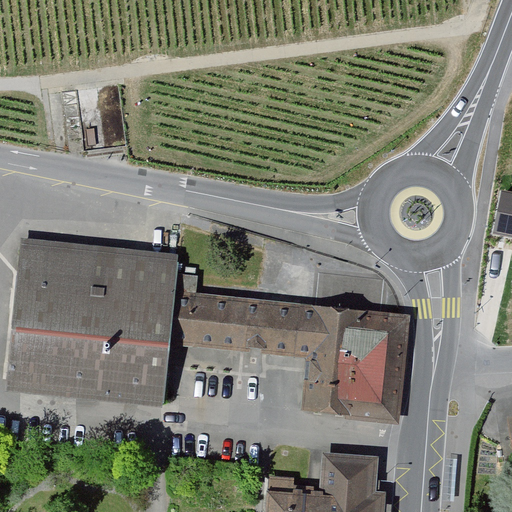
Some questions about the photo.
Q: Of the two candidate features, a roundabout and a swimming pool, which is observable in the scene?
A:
roundabout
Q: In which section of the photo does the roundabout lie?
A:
right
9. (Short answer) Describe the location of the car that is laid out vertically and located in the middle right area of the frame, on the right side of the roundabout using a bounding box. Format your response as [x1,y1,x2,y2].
[490,250,502,277]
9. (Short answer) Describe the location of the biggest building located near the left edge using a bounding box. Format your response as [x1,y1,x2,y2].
[6,238,180,408]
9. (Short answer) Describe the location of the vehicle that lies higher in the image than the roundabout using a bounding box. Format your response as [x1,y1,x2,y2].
[451,95,470,118]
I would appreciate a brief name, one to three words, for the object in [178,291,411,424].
building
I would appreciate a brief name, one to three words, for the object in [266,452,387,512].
house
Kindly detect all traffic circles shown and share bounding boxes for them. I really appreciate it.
[358,152,476,272]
